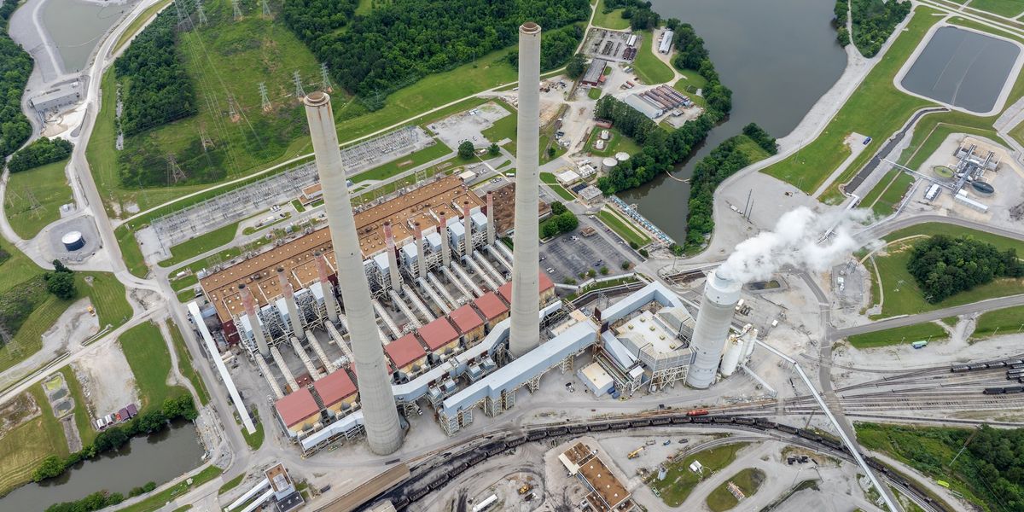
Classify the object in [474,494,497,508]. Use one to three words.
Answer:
vehicle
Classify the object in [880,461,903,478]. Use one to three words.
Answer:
rail car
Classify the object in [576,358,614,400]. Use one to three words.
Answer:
building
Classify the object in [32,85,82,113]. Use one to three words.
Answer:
shed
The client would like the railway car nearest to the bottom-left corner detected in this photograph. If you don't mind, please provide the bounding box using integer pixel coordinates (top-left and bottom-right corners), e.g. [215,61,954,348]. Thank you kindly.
[393,492,414,507]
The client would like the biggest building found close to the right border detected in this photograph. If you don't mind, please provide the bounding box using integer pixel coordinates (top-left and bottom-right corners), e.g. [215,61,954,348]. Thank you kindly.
[949,145,998,196]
